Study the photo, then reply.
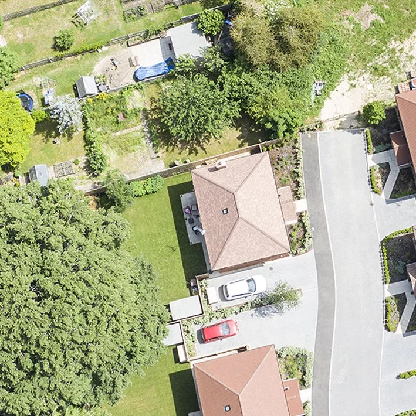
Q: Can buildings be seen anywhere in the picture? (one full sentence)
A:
Yes, you can see a building in this photo.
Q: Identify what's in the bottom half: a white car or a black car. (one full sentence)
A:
The feature located in the bottom half is a white car.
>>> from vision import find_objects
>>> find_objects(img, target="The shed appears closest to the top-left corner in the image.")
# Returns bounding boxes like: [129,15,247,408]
[77,76,101,99]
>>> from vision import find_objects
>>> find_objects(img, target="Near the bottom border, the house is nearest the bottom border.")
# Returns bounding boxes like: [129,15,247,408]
[193,345,307,416]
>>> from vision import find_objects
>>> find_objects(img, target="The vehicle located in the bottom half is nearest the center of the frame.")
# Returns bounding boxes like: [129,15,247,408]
[221,274,266,301]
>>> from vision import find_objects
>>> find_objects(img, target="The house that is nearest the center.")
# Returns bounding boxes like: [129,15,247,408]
[191,151,299,270]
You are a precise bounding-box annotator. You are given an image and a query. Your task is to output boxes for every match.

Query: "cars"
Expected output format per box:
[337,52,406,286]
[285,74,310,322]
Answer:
[221,274,266,301]
[201,319,240,344]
